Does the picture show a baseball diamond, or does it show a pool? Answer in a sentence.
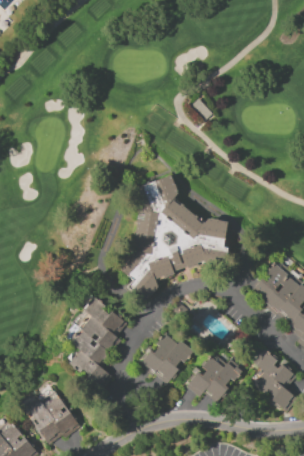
The image shows a pool.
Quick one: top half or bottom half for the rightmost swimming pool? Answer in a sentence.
You can find the rightmost swimming pool in the bottom half.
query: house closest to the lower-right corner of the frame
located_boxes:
[255,351,296,408]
